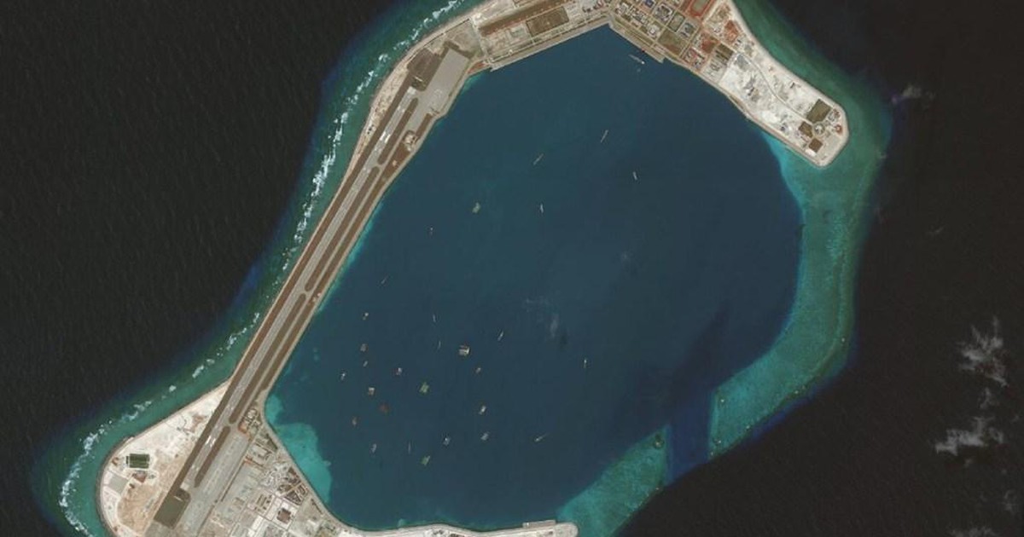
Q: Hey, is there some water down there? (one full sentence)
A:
Yes, water shows up in the scene.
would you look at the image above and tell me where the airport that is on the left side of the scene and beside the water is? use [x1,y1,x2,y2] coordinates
[154,43,471,537]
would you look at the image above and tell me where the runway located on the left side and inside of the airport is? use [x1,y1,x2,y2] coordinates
[179,84,418,492]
